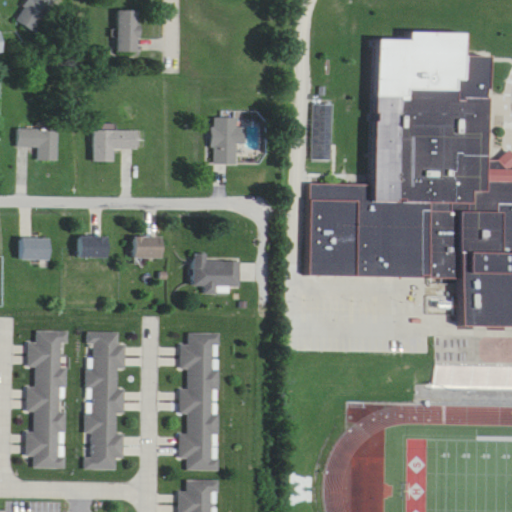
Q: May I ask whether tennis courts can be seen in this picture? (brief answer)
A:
No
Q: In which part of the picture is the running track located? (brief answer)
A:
bottom right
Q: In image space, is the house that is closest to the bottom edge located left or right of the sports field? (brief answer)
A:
on the left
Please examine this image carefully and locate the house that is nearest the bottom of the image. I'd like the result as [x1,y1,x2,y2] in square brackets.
[176,480,219,512]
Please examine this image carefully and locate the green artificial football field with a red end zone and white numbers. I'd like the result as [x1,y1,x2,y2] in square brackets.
[384,425,512,512]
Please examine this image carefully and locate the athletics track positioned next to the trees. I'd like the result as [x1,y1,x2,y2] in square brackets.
[324,402,512,512]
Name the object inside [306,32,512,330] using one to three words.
building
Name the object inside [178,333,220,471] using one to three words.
house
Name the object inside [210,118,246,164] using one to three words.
house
